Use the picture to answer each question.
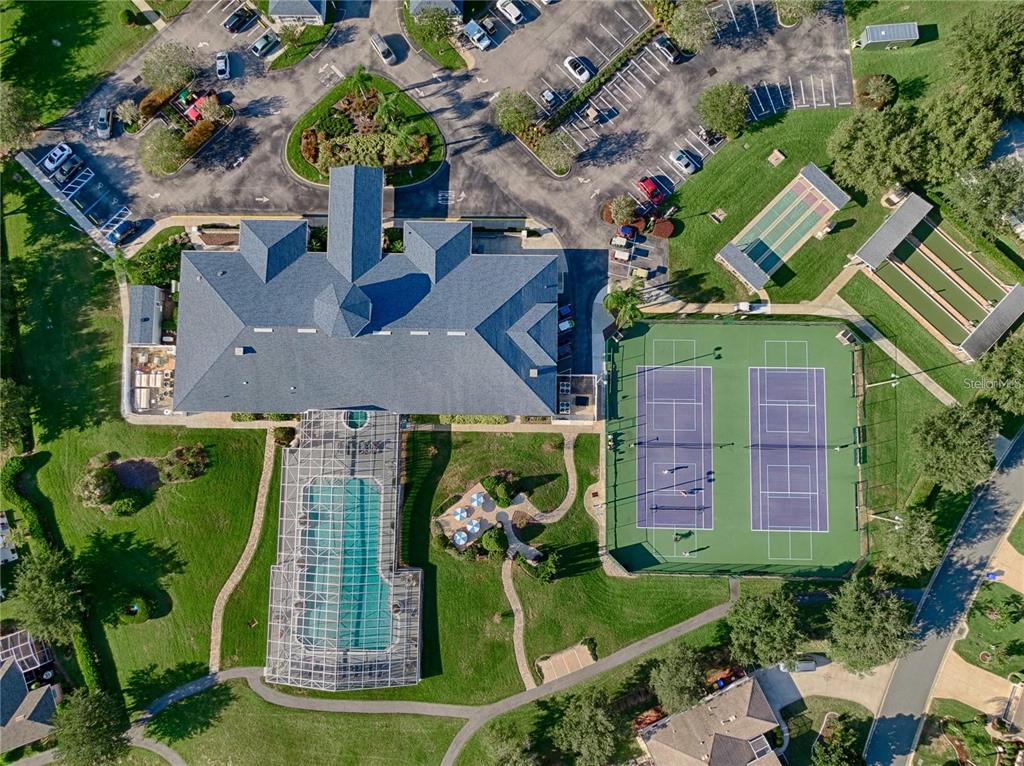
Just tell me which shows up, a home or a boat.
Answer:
home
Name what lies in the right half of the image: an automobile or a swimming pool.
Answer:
automobile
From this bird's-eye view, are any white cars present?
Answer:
Yes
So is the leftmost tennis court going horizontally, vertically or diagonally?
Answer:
vertically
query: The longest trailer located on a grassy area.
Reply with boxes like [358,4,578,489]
[848,22,919,49]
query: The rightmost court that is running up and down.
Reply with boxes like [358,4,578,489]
[750,341,828,559]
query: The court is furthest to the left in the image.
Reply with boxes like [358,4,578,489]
[637,339,714,557]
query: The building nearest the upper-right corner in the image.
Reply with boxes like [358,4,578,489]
[996,211,1024,257]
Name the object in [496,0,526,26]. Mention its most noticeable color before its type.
white car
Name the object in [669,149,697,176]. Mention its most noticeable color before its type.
white car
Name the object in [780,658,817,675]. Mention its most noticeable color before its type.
gray vehicle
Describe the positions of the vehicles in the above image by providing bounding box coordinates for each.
[541,89,556,108]
[558,305,573,318]
[780,658,817,675]
[583,106,599,125]
[630,268,648,277]
[463,18,492,49]
[616,225,634,238]
[654,34,681,64]
[368,29,399,66]
[107,219,138,245]
[612,250,630,262]
[609,237,626,249]
[222,4,255,33]
[562,55,591,85]
[558,320,575,333]
[496,0,526,26]
[483,19,498,39]
[96,108,113,139]
[55,153,84,185]
[700,127,709,138]
[250,30,281,58]
[43,142,72,172]
[732,302,750,313]
[669,149,697,176]
[636,175,666,206]
[215,50,230,81]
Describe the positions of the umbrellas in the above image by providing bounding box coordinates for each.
[454,531,468,545]
[466,519,480,533]
[453,507,467,521]
[470,493,484,507]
